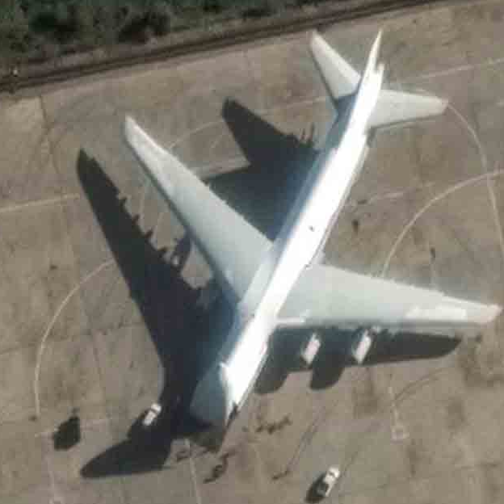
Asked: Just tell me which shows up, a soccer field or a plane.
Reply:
plane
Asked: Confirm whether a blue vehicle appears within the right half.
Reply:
No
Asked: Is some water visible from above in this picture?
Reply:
No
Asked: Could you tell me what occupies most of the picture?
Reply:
paved ground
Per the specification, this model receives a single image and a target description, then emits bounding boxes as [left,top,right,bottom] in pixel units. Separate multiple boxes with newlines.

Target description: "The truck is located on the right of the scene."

[316,469,340,502]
